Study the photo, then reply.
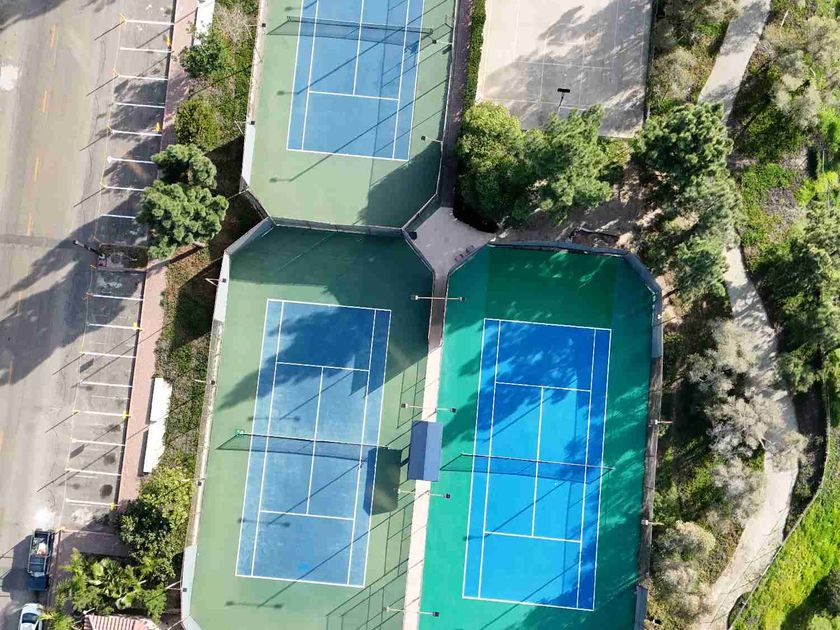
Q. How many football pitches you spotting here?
zero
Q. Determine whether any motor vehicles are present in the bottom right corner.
No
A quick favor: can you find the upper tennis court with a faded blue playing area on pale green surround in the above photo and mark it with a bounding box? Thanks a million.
[250,0,455,230]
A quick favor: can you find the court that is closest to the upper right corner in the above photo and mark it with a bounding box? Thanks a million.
[476,0,652,139]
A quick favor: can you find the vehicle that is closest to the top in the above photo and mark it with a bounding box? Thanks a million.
[25,526,57,592]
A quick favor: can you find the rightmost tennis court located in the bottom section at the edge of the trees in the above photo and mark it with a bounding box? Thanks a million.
[418,245,655,630]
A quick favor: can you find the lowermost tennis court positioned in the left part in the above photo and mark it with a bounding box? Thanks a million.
[193,228,432,630]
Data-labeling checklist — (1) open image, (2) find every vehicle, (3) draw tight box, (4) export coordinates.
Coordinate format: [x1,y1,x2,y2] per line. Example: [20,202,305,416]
[25,526,57,592]
[18,602,46,630]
